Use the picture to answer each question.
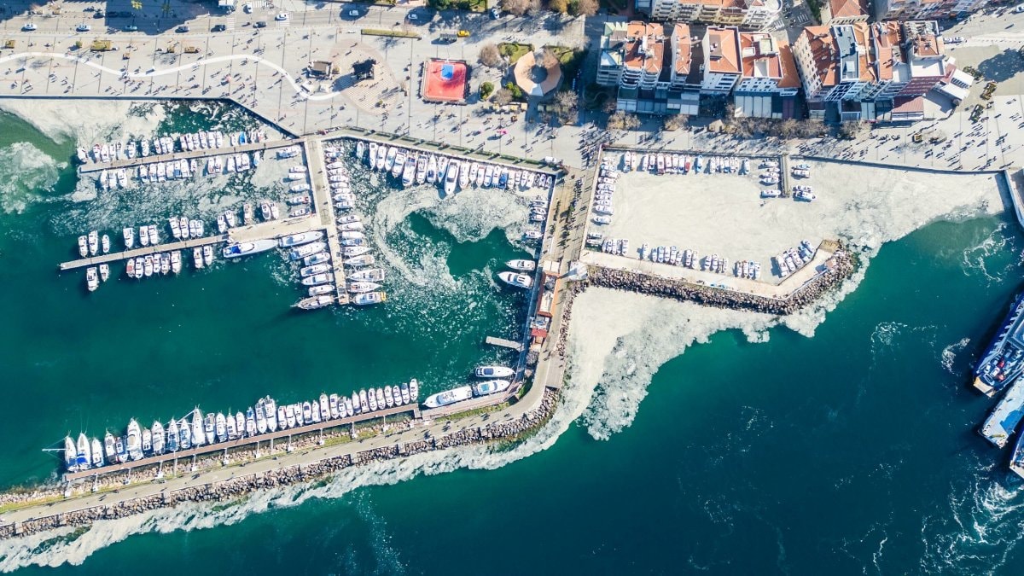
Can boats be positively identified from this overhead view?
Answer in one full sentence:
Yes, the picture does show a boat.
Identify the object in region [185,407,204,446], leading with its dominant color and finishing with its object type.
white boat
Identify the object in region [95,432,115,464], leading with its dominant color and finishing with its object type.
white boat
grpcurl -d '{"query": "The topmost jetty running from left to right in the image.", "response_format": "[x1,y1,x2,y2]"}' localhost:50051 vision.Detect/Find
[79,139,304,173]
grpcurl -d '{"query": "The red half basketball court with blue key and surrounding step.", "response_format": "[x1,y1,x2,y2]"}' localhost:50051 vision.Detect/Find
[422,56,468,101]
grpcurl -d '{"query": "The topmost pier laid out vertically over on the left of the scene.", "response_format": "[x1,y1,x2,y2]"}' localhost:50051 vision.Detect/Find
[305,138,337,228]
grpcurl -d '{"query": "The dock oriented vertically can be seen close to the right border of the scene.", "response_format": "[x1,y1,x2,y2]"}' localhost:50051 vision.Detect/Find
[998,170,1024,237]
